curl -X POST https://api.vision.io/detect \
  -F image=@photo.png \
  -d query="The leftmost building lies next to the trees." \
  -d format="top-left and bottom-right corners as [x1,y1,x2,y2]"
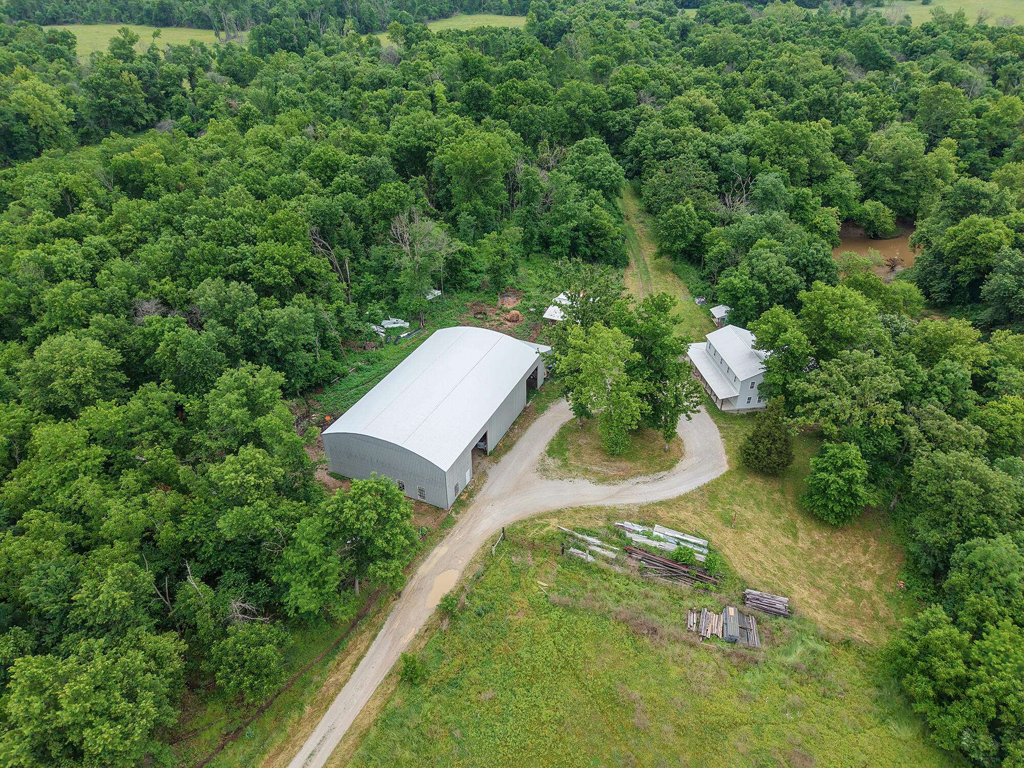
[318,324,552,508]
